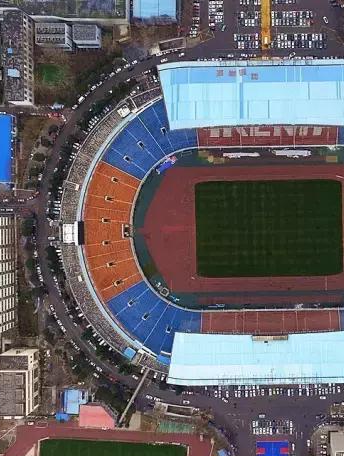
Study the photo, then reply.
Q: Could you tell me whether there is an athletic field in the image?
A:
Yes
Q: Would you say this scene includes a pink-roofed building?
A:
Yes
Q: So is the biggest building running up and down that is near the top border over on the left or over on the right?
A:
left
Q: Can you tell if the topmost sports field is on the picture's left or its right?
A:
right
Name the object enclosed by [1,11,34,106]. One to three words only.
building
